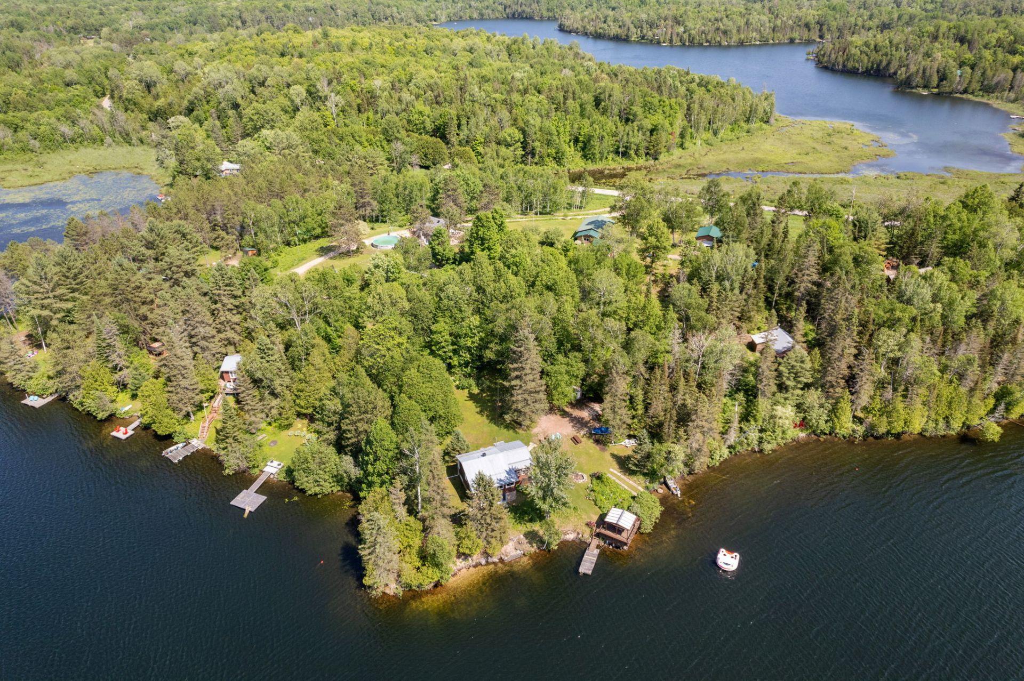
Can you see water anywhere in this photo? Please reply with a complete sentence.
Yes, there is water in the image.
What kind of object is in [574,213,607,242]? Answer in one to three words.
building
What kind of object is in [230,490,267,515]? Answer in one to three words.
pier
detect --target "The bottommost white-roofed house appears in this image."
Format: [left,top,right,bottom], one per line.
[448,433,542,511]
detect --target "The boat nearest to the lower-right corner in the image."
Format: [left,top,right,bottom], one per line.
[665,476,684,498]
